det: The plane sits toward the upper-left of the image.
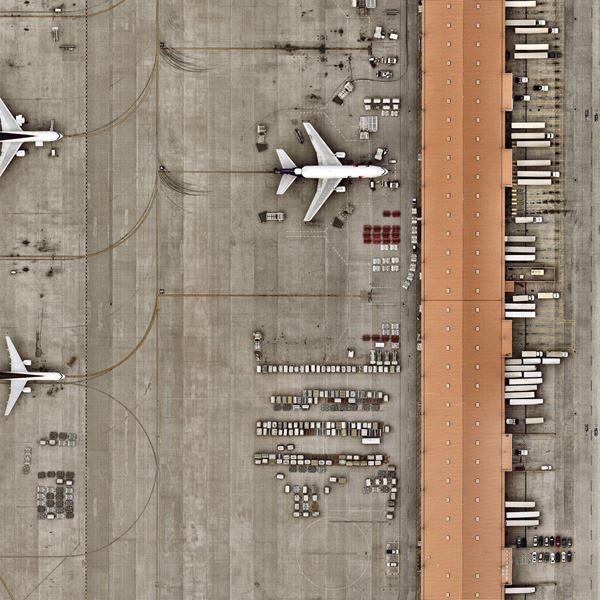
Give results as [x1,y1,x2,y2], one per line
[0,100,63,172]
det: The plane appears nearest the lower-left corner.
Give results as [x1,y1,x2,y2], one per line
[0,336,65,416]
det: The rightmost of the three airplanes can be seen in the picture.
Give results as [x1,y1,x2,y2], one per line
[274,122,388,221]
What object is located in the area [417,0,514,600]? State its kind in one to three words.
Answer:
building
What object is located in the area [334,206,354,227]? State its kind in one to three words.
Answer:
work vehicle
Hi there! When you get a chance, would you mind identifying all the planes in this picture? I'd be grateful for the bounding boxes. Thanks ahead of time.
[274,122,388,221]
[0,336,65,416]
[0,100,63,172]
